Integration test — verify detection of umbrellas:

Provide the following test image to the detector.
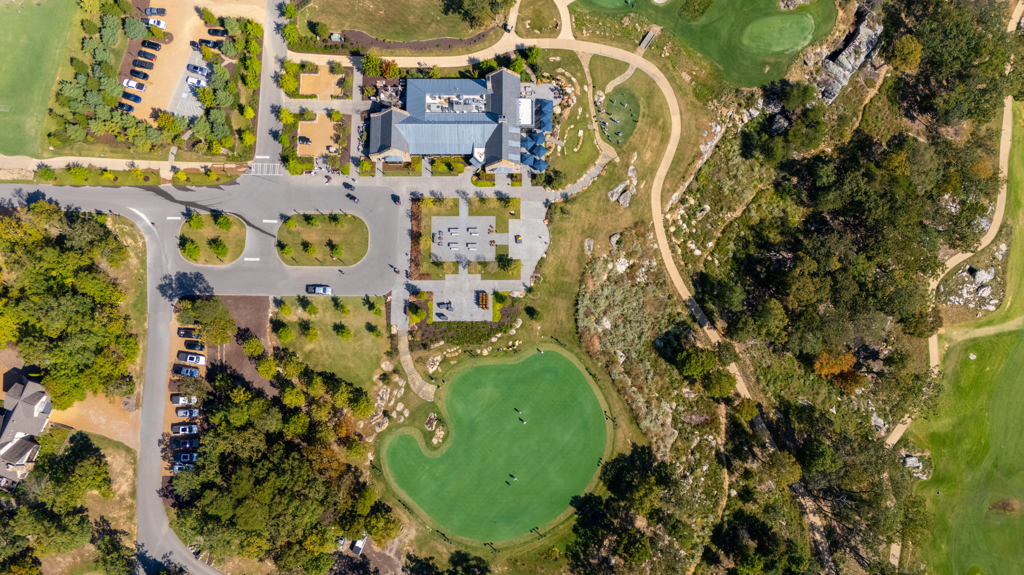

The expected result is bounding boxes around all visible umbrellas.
[521,136,535,151]
[541,99,553,110]
[541,120,553,131]
[522,154,534,166]
[532,158,549,173]
[532,144,548,159]
[532,132,546,145]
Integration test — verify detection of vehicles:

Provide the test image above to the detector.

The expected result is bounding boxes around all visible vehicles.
[352,534,368,557]
[185,341,208,351]
[199,38,220,50]
[189,39,201,52]
[172,424,200,436]
[505,23,513,35]
[307,285,334,295]
[187,63,208,75]
[347,193,359,204]
[146,6,167,17]
[328,146,339,155]
[208,28,228,38]
[394,194,402,206]
[173,366,201,377]
[124,79,148,93]
[186,75,207,87]
[177,330,204,341]
[179,353,206,365]
[122,91,143,104]
[177,407,200,418]
[138,50,158,61]
[116,100,137,114]
[143,17,166,29]
[131,58,156,71]
[142,39,162,51]
[171,438,199,449]
[170,396,198,406]
[130,68,150,81]
[298,136,312,146]
[344,183,356,193]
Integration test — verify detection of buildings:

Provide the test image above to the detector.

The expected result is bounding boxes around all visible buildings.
[369,67,535,175]
[0,376,55,494]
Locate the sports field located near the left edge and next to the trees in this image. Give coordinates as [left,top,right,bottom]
[0,0,82,159]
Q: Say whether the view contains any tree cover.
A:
Yes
